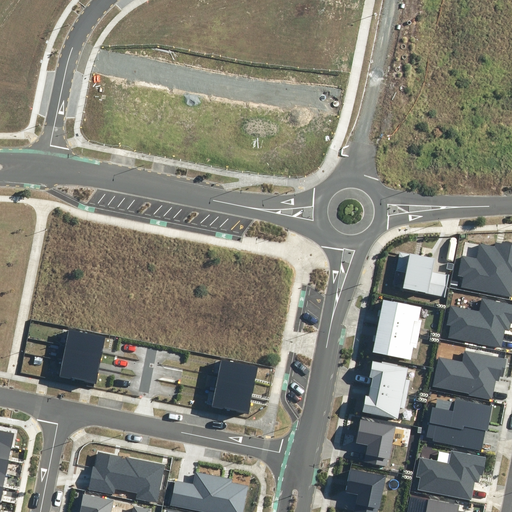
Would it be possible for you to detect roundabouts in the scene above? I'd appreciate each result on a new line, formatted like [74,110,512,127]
[328,188,374,235]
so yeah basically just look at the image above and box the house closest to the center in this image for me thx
[214,360,258,414]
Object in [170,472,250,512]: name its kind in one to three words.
house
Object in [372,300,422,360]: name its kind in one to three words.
house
